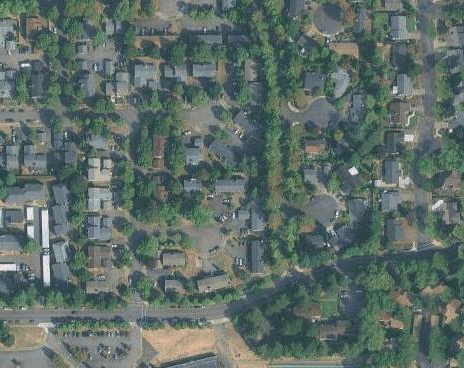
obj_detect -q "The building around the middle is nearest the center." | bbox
[214,179,247,192]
